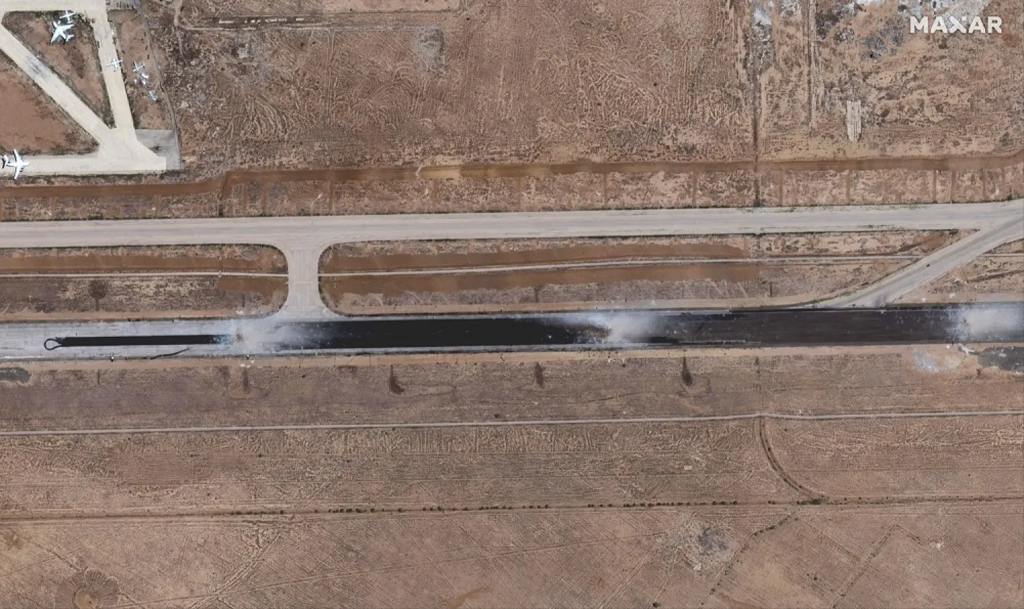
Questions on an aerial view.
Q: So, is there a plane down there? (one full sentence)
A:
Yes, the frame does contain a plane.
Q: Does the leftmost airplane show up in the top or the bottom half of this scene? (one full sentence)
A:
The top half of the photo is where the leftmost airplane is.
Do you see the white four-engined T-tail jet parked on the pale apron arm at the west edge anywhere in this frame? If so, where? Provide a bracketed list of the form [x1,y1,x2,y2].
[3,150,31,179]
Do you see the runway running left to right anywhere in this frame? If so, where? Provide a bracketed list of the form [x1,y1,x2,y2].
[0,302,1024,361]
